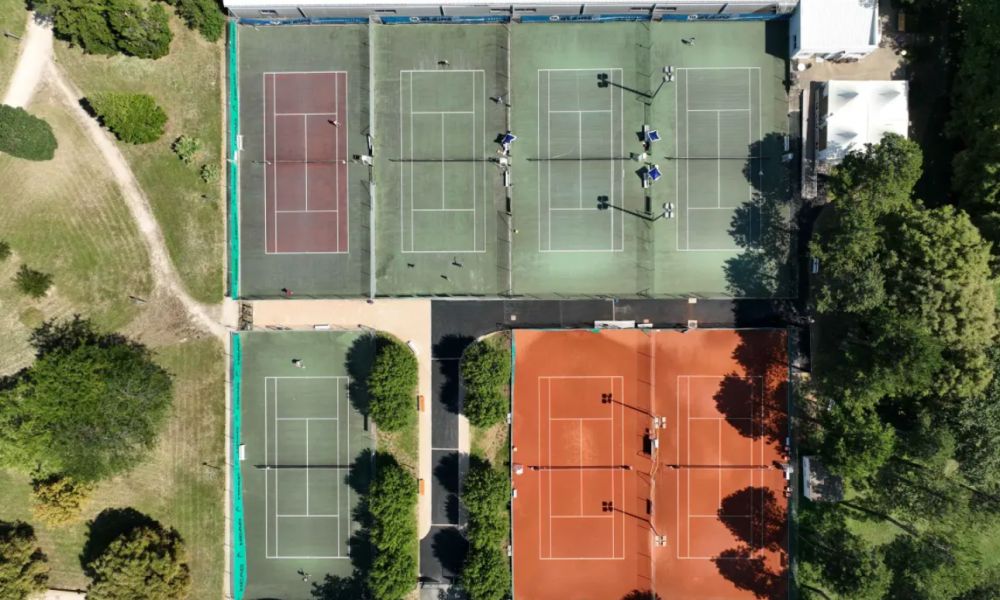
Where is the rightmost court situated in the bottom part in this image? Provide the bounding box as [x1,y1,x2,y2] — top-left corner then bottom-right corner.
[652,330,789,600]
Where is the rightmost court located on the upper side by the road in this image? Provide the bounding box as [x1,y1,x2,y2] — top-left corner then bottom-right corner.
[651,21,790,299]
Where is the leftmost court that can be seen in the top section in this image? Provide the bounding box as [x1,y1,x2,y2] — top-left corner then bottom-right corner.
[239,21,375,299]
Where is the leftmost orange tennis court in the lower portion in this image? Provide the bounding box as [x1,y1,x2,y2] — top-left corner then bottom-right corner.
[514,330,653,600]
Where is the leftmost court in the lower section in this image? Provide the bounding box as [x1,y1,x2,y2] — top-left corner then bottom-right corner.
[242,331,377,600]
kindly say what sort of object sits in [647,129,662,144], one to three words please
umbrella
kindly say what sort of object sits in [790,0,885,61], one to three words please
building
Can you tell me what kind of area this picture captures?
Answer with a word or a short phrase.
sports ground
